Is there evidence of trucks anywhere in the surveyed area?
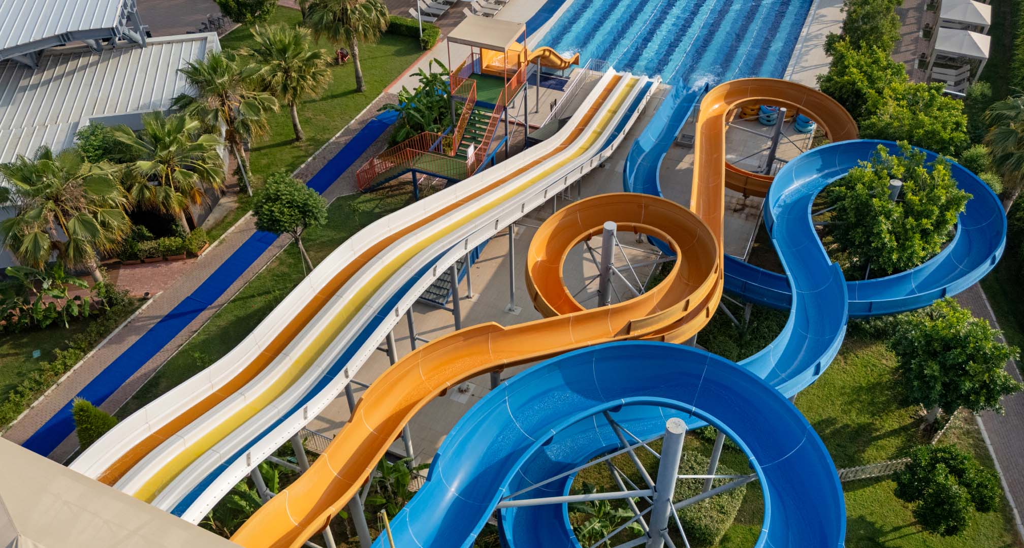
No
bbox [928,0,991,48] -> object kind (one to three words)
gazebo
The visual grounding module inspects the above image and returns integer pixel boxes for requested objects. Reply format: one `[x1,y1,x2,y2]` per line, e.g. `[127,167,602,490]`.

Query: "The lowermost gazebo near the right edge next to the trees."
[922,28,991,89]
